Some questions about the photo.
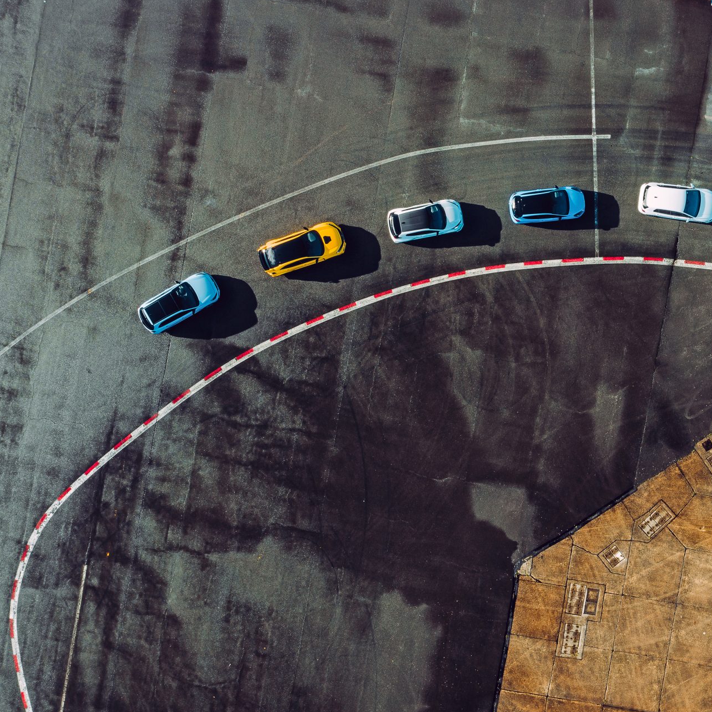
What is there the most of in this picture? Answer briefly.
paved ground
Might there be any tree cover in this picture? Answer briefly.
No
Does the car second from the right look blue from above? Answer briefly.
Yes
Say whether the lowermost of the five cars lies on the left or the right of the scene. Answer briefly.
left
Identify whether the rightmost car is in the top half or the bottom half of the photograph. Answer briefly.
top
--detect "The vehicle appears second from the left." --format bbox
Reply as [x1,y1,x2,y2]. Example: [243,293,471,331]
[258,222,346,277]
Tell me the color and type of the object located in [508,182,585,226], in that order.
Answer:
blue car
